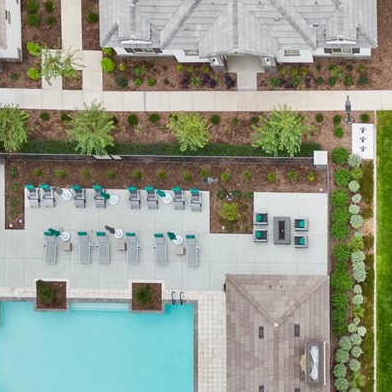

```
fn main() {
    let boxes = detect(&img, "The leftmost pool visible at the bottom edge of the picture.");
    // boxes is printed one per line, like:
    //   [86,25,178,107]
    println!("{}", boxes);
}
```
[0,291,198,392]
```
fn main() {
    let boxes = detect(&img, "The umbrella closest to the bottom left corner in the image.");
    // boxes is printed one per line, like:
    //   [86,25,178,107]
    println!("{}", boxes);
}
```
[48,226,70,241]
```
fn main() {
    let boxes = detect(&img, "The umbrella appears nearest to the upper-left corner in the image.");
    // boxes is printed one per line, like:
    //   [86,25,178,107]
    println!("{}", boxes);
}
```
[50,182,70,200]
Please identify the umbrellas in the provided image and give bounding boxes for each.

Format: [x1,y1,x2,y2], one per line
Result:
[48,226,70,241]
[106,224,124,239]
[157,186,170,203]
[50,182,70,200]
[169,230,183,245]
[100,188,118,205]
